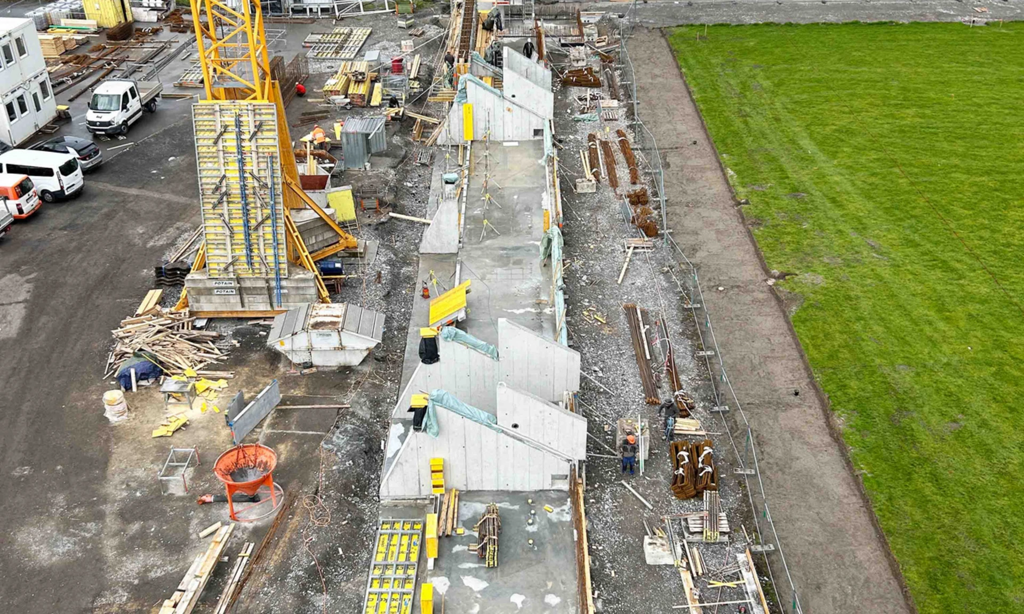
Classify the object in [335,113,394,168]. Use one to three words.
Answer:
shed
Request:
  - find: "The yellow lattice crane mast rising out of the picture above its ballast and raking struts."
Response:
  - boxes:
[172,0,355,314]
